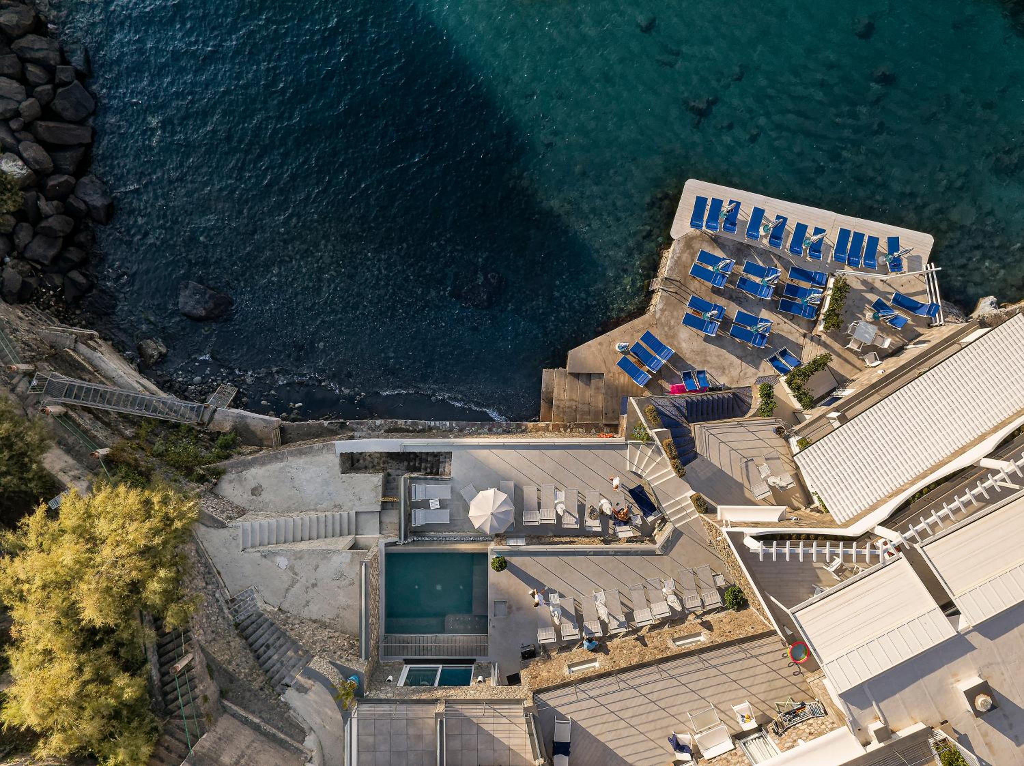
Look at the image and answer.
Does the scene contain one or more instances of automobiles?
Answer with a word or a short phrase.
No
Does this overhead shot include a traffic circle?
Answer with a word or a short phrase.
No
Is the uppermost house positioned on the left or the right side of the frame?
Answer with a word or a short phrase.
right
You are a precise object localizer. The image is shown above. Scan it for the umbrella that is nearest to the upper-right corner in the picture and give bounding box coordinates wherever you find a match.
[877,249,911,265]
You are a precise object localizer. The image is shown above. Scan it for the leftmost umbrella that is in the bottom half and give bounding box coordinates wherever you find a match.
[467,485,518,537]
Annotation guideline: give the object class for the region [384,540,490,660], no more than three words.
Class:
swimming pool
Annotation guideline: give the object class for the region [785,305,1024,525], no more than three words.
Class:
house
